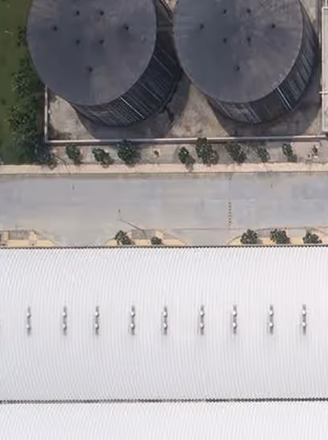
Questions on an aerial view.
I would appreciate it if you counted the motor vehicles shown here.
0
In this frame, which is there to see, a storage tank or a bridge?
storage tank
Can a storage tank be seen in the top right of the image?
Yes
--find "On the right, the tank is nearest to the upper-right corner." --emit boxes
[172,0,320,125]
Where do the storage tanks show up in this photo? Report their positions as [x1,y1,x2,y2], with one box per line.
[25,0,182,129]
[172,0,320,125]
